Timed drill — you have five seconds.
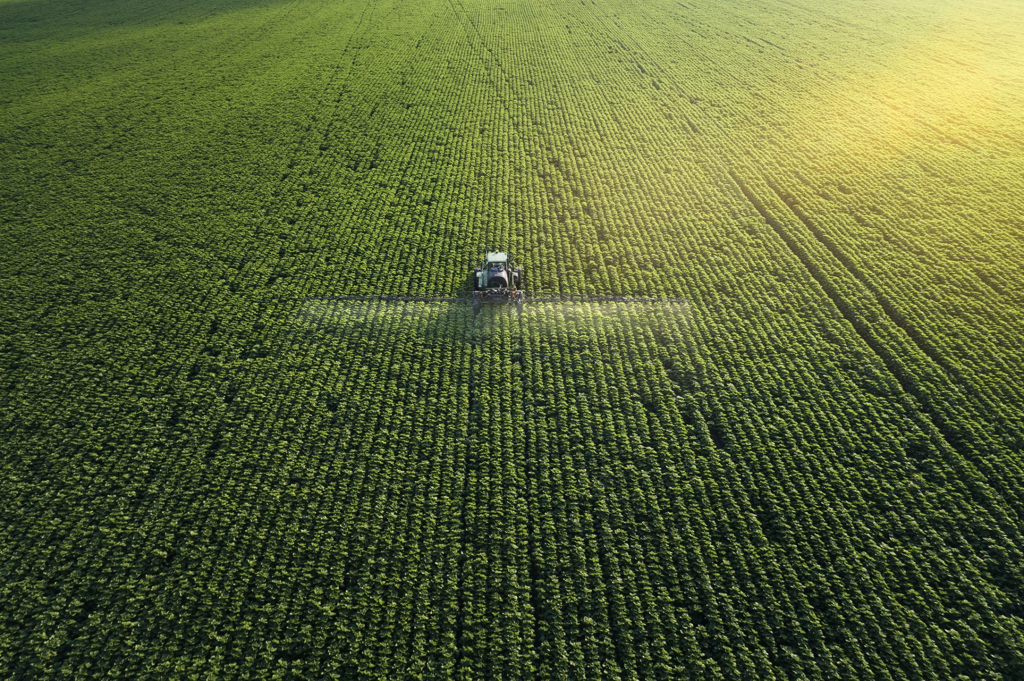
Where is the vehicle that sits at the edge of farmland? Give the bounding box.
[473,245,522,291]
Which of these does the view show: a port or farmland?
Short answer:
farmland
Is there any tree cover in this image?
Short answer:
No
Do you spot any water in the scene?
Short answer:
No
